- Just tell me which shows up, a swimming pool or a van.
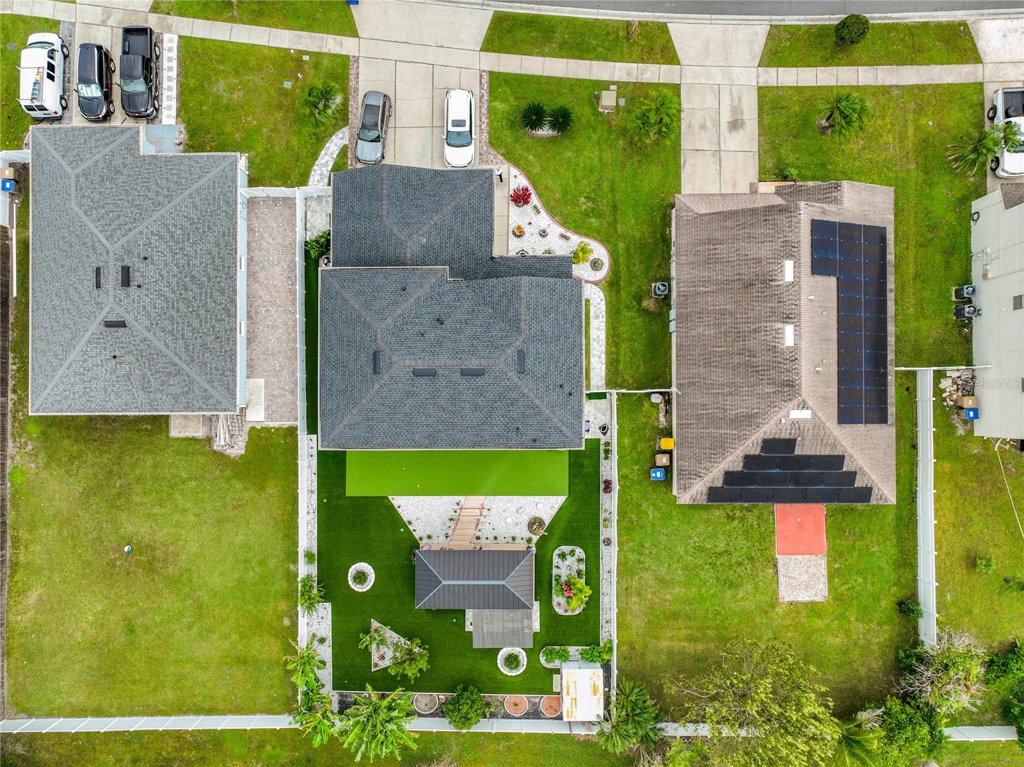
van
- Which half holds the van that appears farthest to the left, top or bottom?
top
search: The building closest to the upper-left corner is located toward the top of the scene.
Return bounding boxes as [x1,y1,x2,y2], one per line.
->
[28,123,250,417]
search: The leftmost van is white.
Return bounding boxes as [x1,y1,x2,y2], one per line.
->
[14,34,71,122]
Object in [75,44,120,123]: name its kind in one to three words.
car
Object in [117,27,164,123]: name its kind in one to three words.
truck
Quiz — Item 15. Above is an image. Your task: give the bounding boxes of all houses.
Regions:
[317,163,586,451]
[668,181,896,505]
[973,183,1024,442]
[28,123,250,417]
